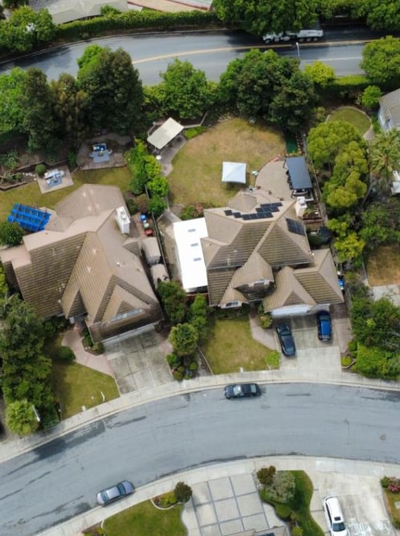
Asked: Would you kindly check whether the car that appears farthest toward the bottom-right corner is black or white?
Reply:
white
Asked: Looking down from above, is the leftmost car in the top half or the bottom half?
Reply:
bottom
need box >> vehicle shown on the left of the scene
[95,480,137,506]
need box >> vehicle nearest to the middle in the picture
[277,324,295,357]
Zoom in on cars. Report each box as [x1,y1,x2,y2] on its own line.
[322,497,348,536]
[317,312,334,343]
[95,480,137,506]
[277,324,295,357]
[224,383,262,401]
